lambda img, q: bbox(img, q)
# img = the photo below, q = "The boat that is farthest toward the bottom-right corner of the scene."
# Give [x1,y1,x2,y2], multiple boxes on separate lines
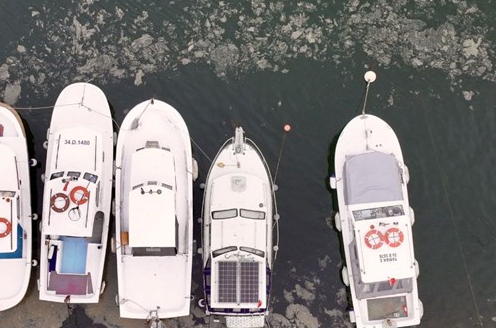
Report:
[330,113,425,328]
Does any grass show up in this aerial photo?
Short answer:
No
